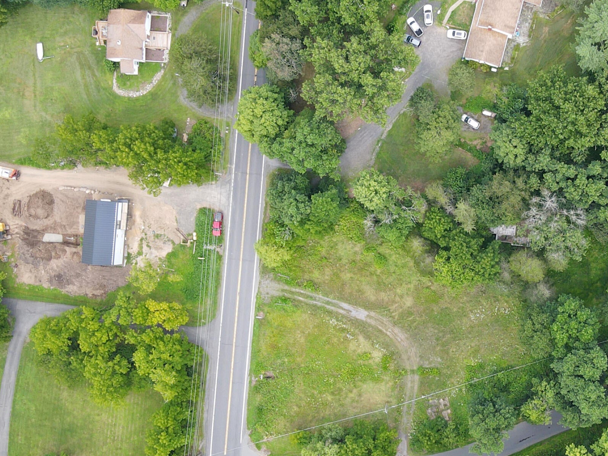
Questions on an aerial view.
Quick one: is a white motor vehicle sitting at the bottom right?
No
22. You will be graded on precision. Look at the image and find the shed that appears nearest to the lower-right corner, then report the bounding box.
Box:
[489,227,528,246]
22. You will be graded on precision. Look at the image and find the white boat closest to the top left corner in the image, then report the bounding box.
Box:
[37,40,54,60]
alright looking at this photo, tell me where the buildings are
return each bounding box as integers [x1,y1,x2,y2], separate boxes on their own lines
[83,199,130,264]
[463,0,546,66]
[489,227,528,246]
[107,7,151,74]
